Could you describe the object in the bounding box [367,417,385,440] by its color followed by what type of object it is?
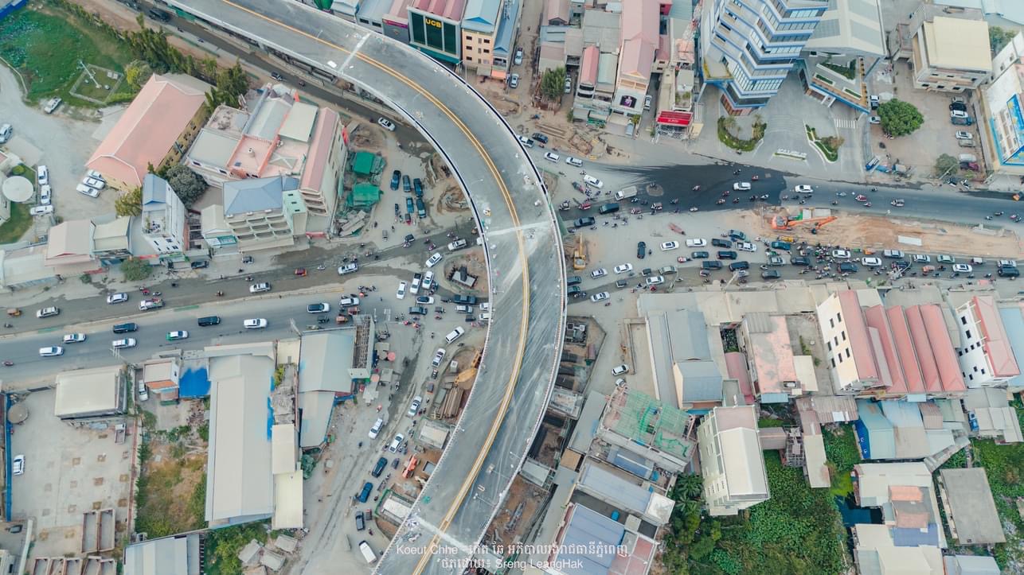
white car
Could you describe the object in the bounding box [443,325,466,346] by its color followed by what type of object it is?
white car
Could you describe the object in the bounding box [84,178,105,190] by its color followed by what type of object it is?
white vehicle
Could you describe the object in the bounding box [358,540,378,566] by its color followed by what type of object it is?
white vehicle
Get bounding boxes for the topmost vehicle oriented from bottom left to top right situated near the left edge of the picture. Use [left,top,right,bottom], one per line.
[43,97,64,114]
